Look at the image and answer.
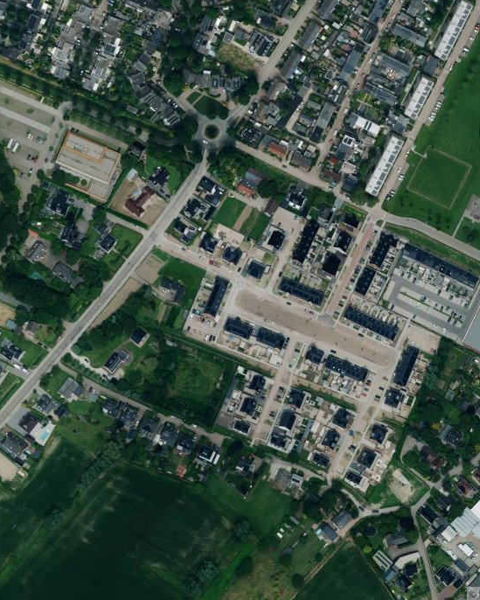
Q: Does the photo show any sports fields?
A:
Yes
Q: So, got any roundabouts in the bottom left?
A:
No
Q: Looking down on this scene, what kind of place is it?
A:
residential area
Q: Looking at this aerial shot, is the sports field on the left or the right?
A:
right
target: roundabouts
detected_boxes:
[196,117,233,154]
